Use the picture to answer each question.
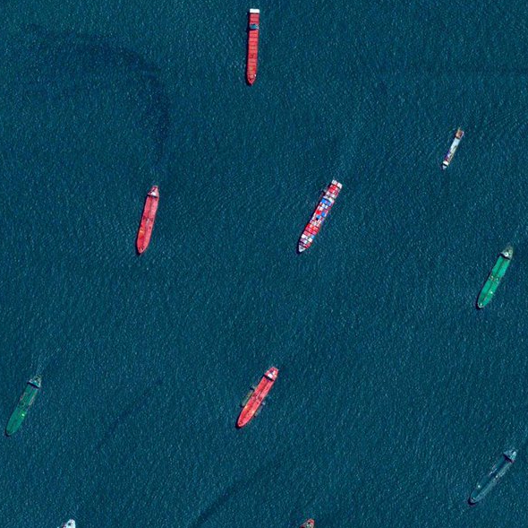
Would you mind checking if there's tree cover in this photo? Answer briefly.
No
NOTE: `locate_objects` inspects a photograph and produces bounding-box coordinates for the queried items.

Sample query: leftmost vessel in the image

[7,375,41,435]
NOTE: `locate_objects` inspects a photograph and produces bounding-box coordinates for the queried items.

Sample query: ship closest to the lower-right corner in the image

[469,450,516,502]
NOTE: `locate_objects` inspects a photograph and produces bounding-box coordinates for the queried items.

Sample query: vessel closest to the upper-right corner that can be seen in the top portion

[442,127,464,169]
